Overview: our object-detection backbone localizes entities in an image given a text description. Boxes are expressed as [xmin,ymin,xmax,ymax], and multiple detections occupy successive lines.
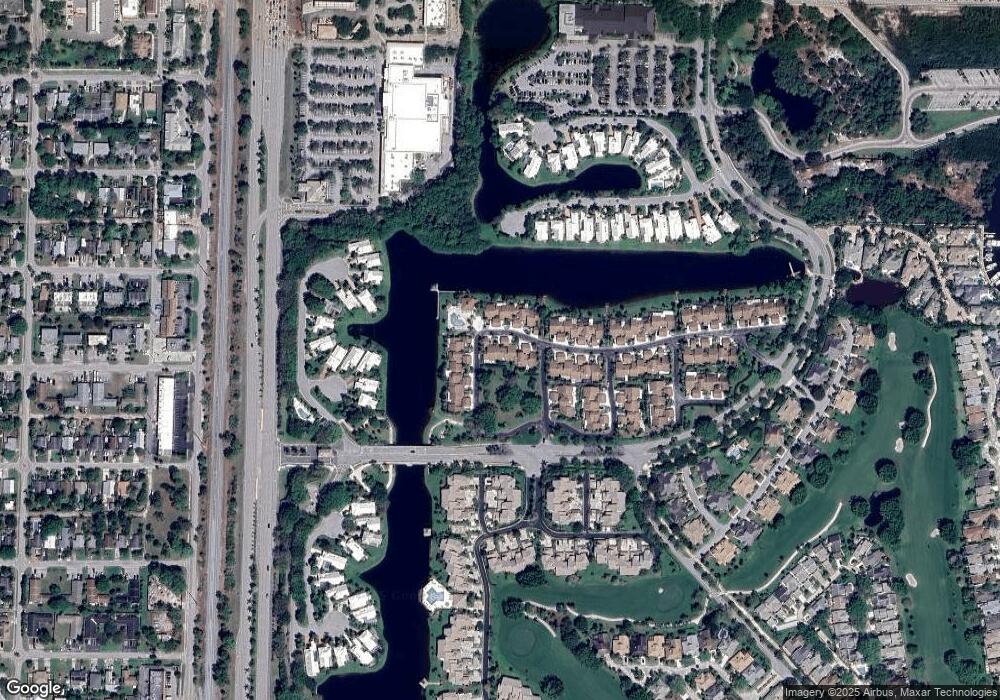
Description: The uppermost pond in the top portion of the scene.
[750,54,814,132]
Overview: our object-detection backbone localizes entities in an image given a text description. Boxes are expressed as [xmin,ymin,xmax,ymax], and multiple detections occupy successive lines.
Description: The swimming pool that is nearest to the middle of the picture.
[448,305,483,331]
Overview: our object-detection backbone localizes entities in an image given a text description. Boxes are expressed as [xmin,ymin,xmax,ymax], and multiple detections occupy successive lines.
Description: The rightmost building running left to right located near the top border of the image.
[559,3,656,46]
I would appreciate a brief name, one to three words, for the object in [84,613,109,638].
house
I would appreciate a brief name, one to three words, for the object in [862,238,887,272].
house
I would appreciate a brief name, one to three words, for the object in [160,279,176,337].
building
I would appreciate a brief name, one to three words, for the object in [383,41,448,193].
building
